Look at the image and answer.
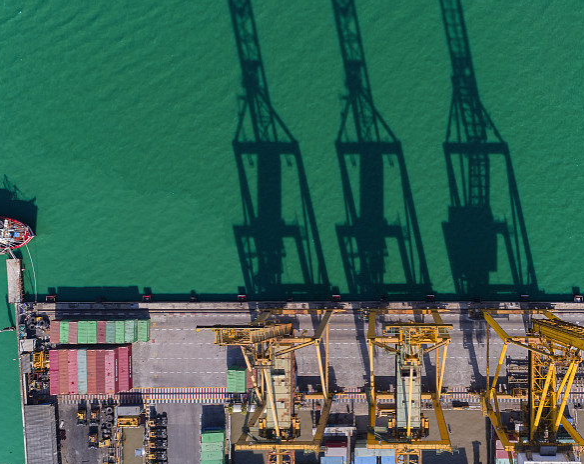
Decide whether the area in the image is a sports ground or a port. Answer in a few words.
port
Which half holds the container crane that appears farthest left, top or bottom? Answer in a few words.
bottom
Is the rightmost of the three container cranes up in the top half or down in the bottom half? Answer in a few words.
bottom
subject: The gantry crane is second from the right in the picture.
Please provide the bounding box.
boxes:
[353,310,459,464]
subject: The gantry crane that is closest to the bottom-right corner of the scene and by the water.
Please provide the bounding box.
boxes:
[461,310,584,464]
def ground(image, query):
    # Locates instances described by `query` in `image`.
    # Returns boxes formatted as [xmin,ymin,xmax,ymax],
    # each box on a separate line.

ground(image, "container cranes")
[353,310,459,464]
[194,310,353,464]
[461,310,584,464]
